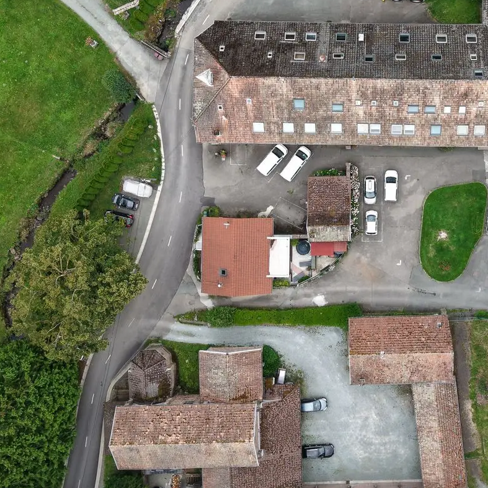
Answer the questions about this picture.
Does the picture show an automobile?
Yes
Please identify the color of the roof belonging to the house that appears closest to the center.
red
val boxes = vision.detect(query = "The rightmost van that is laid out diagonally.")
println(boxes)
[280,146,310,181]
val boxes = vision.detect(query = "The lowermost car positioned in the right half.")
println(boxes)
[303,443,333,458]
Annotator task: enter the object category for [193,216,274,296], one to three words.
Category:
house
